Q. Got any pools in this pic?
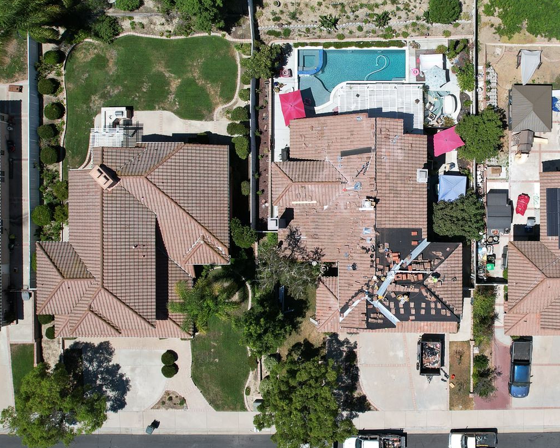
Yes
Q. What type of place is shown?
residential area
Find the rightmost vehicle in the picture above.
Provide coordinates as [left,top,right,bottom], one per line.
[509,338,537,401]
